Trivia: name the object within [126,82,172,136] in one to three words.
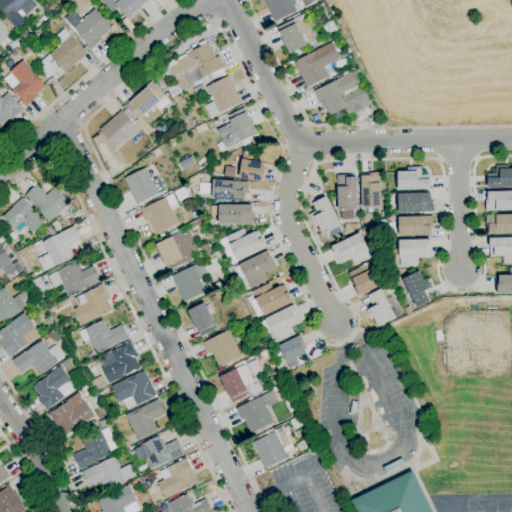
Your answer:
house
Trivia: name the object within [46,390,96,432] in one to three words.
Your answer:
house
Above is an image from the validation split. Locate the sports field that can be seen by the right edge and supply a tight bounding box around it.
[392,298,512,496]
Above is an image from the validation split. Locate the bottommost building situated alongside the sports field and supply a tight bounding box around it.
[352,472,430,512]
